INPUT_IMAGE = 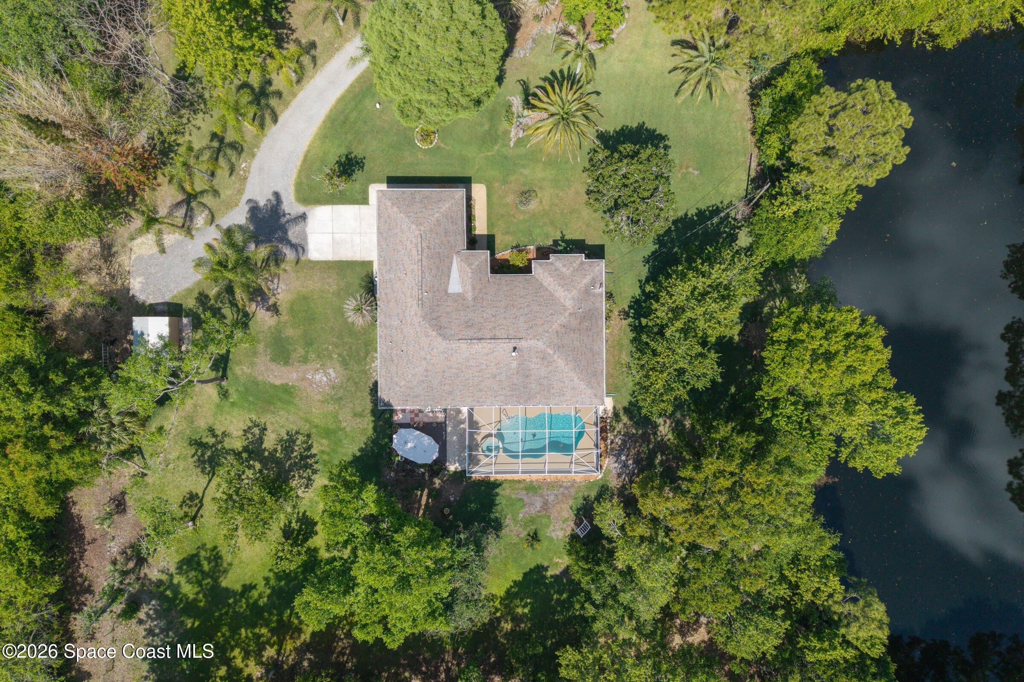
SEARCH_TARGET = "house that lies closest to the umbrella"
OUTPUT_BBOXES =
[375,187,607,409]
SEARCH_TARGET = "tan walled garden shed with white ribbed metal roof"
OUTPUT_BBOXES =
[132,316,179,355]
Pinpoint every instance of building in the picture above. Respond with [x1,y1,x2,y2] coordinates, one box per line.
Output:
[132,316,179,355]
[375,187,607,409]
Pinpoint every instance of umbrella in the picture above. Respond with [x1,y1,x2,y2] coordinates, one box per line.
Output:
[393,429,439,464]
